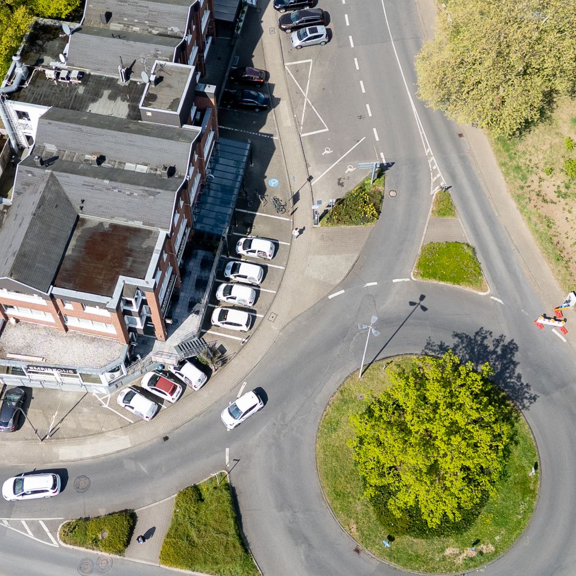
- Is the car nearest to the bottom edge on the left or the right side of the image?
left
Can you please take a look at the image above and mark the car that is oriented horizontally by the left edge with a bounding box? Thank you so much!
[4,472,62,505]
